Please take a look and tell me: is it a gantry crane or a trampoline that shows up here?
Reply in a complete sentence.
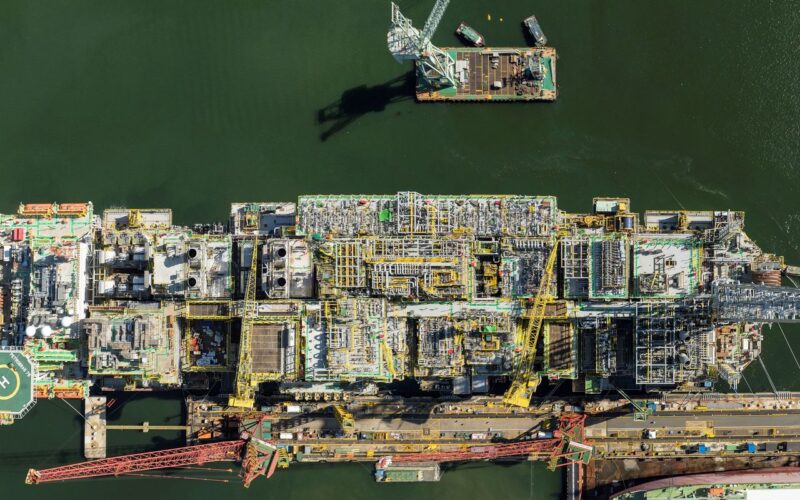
I can see a gantry crane in this picture.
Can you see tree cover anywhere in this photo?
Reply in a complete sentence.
No, there is no tree cover in the image.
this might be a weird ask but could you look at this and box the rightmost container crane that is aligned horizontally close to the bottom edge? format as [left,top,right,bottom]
[383,404,601,500]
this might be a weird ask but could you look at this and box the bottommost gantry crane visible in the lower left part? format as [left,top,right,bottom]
[21,415,282,490]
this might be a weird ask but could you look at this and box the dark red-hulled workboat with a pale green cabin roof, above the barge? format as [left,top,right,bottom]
[455,22,484,47]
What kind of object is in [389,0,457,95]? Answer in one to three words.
crane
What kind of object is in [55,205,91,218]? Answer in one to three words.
boat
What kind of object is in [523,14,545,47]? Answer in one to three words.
boat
